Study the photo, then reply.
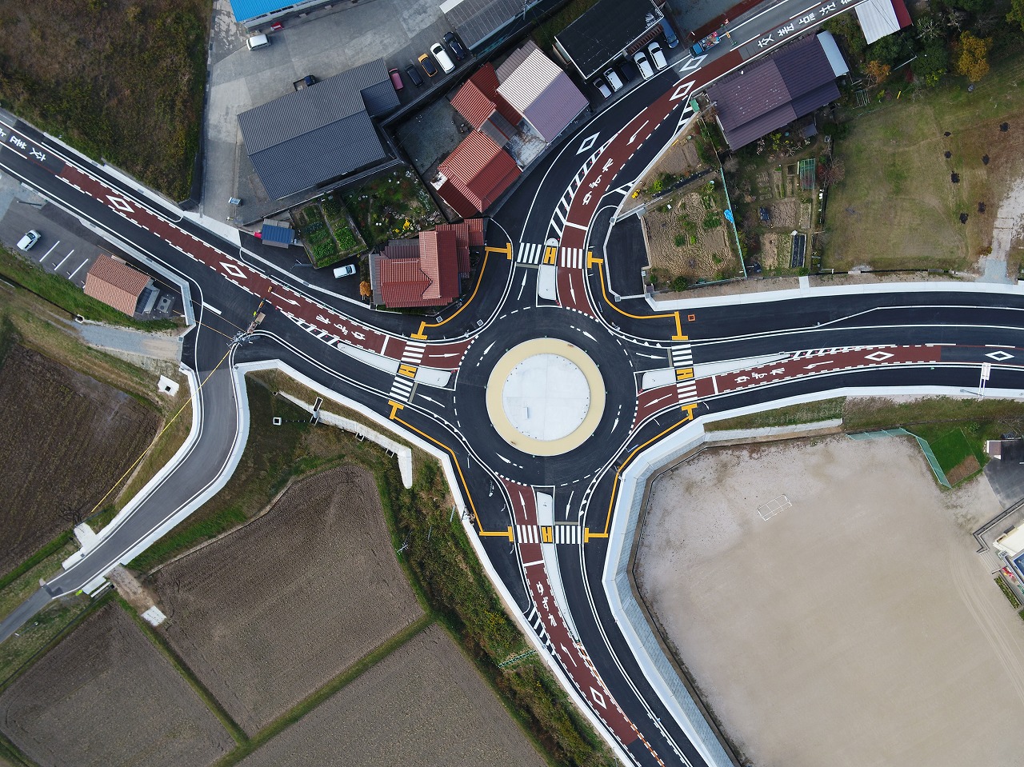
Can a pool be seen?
No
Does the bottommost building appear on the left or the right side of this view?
right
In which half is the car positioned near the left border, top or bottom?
top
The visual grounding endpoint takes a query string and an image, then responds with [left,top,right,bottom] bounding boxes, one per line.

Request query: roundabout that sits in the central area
[456,307,635,484]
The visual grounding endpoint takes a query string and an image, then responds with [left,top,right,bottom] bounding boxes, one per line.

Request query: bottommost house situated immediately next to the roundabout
[370,219,483,307]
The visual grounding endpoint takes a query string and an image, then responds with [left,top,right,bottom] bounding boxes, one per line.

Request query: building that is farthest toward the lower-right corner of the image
[982,510,1024,557]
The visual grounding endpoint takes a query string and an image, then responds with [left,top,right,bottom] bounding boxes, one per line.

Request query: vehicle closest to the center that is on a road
[333,264,358,278]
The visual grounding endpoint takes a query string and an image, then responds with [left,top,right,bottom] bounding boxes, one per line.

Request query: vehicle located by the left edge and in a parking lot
[17,228,43,253]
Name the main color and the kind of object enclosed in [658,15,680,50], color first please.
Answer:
blue car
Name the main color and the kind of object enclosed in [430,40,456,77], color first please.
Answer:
white car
